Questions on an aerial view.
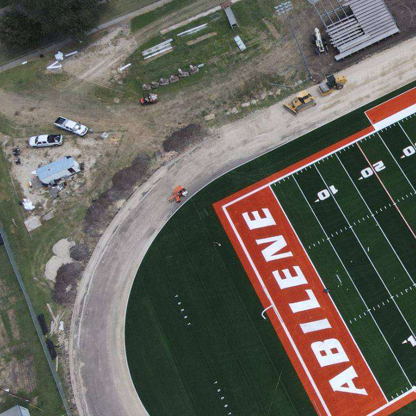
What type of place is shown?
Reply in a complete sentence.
This image shows a sports ground.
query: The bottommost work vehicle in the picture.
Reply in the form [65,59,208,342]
[170,183,191,211]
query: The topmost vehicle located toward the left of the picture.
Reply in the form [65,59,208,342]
[139,88,159,106]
